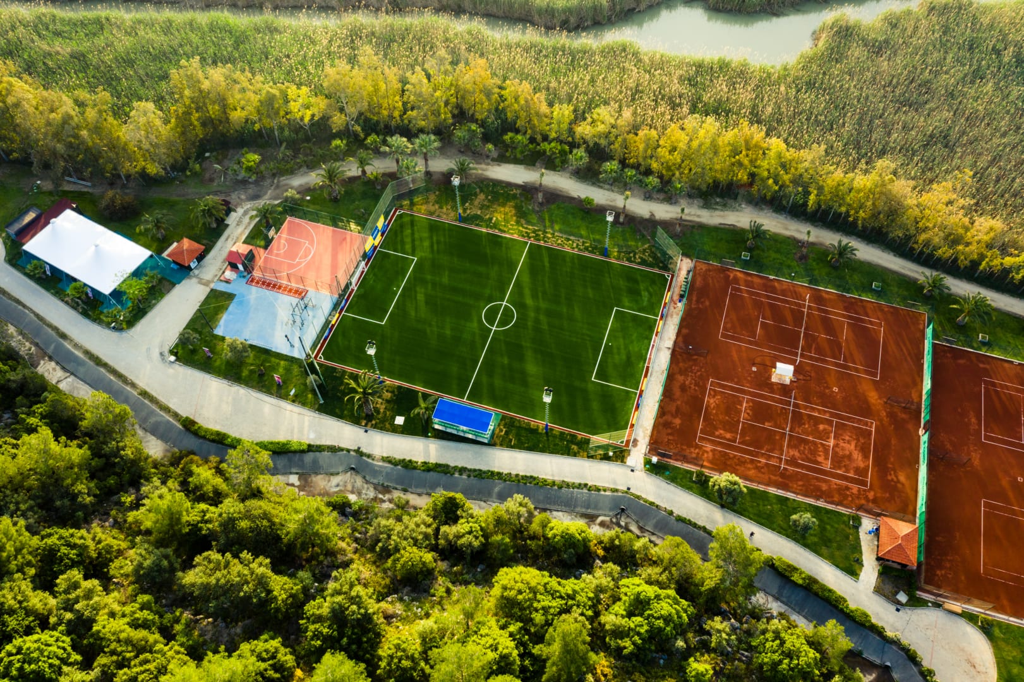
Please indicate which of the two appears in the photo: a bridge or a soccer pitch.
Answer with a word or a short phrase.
soccer pitch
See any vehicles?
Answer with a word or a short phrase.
No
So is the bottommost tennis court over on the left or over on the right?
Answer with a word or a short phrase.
right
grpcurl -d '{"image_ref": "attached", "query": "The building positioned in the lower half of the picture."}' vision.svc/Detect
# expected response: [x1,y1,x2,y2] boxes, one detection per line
[872,516,919,570]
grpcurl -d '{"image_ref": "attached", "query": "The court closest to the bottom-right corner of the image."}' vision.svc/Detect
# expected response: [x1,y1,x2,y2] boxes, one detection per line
[922,457,1024,623]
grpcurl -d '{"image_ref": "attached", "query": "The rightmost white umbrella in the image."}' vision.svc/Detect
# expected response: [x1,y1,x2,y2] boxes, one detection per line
[221,267,236,282]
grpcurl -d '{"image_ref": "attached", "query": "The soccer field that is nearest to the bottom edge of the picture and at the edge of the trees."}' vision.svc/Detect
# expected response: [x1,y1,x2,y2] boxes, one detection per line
[306,204,680,452]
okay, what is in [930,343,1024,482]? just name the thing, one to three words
tennis court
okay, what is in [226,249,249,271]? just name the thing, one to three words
shed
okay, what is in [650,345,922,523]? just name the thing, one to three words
tennis court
